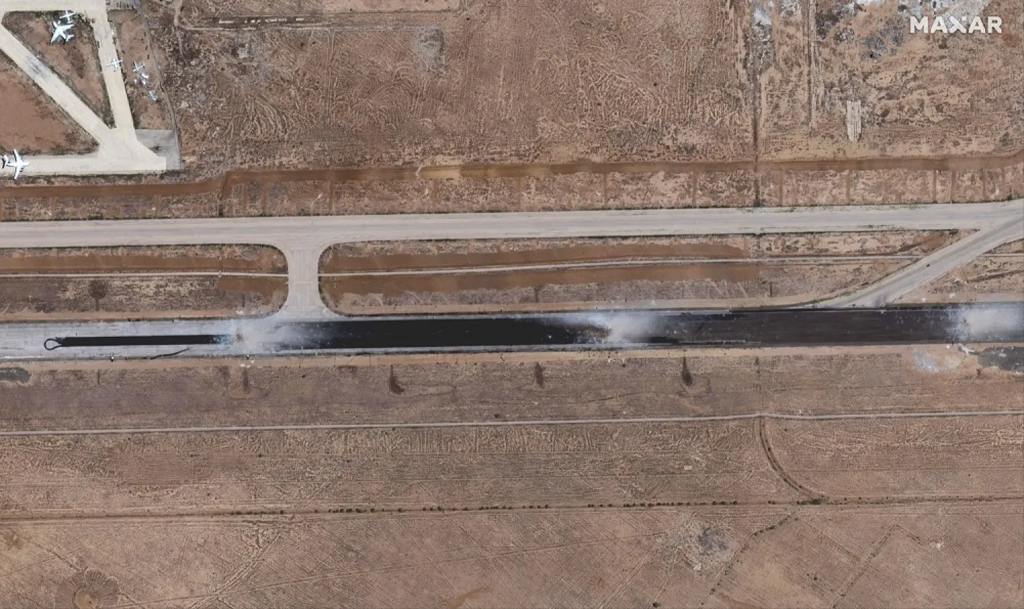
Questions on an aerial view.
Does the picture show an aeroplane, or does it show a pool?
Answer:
aeroplane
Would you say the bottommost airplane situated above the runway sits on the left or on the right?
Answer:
left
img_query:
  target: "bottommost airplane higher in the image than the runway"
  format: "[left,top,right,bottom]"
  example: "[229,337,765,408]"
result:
[3,150,31,179]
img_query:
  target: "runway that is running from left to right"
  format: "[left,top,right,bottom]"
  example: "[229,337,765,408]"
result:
[0,302,1024,361]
